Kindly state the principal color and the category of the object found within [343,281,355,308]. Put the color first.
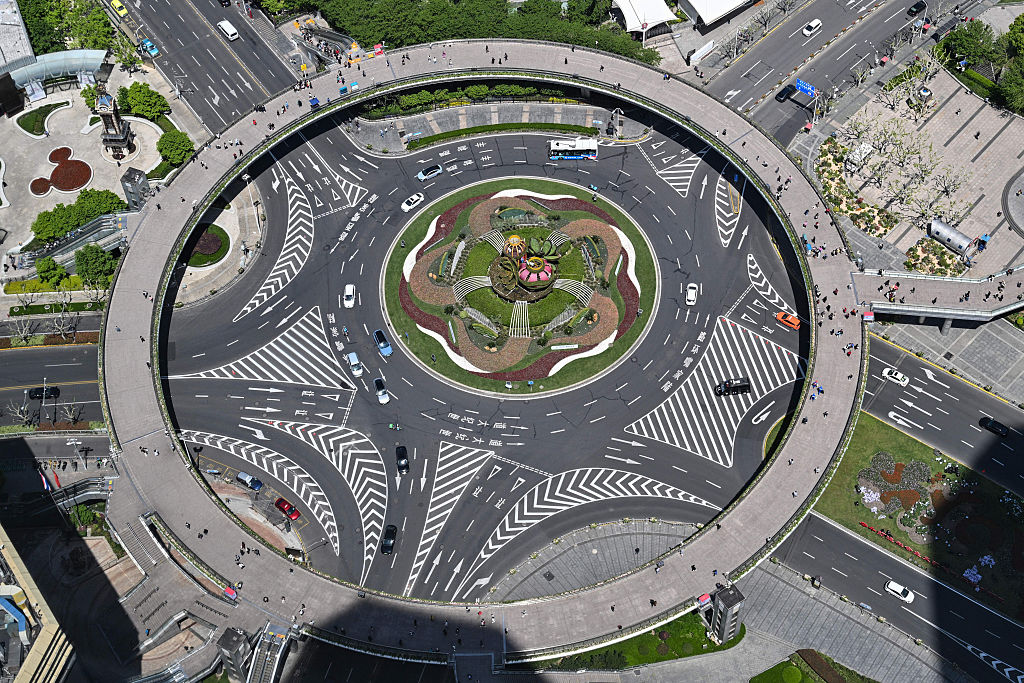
white vehicle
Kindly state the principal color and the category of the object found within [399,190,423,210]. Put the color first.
white car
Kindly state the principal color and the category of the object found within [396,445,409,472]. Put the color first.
black vehicle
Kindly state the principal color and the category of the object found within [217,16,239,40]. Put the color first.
white vehicle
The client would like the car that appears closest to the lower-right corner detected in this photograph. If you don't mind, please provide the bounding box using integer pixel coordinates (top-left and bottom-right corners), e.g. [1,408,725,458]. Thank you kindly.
[884,579,916,603]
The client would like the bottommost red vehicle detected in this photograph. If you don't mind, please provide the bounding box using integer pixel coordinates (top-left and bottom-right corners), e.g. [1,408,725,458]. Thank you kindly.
[274,495,300,519]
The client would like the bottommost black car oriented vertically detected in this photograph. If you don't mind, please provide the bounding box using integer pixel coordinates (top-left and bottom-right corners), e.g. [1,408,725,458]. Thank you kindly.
[381,524,396,553]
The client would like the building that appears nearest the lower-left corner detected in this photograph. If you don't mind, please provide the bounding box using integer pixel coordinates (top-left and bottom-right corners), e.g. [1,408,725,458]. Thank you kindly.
[0,509,82,683]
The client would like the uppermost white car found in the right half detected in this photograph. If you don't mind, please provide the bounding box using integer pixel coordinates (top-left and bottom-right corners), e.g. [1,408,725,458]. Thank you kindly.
[803,18,822,35]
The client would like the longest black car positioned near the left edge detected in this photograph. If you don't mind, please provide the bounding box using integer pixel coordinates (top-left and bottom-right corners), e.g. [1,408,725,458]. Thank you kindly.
[28,384,58,400]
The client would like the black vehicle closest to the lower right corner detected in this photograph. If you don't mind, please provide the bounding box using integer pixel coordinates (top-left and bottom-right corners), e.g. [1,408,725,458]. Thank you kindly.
[979,416,1009,436]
